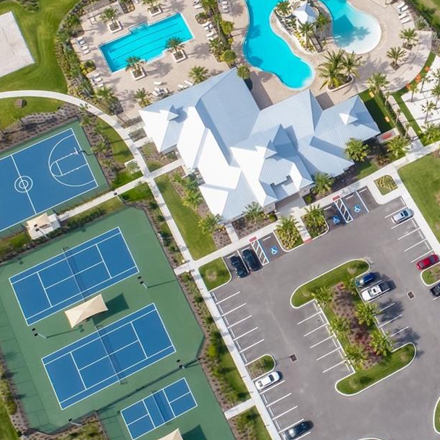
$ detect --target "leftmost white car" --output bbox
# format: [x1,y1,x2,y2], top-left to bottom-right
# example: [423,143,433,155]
[256,371,279,389]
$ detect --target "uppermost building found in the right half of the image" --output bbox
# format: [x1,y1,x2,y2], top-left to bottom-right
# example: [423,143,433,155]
[294,5,317,35]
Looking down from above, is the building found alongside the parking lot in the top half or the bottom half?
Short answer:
top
